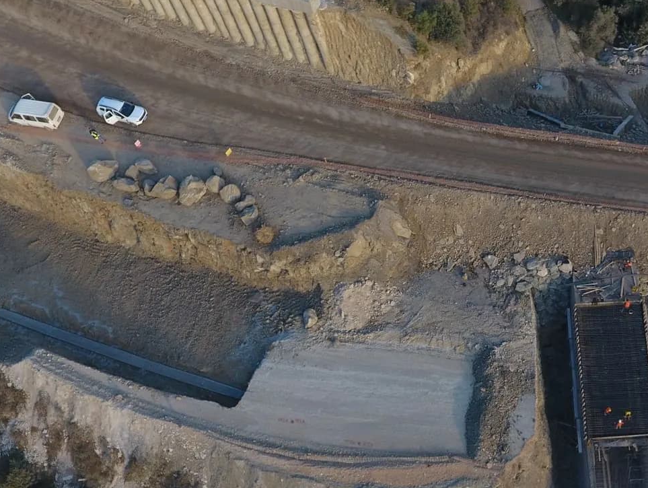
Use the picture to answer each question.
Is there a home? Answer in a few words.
No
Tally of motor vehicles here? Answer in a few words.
2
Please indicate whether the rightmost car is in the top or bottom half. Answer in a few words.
top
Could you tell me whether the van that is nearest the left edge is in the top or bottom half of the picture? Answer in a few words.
top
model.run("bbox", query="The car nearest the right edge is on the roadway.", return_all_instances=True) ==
[97,97,147,126]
